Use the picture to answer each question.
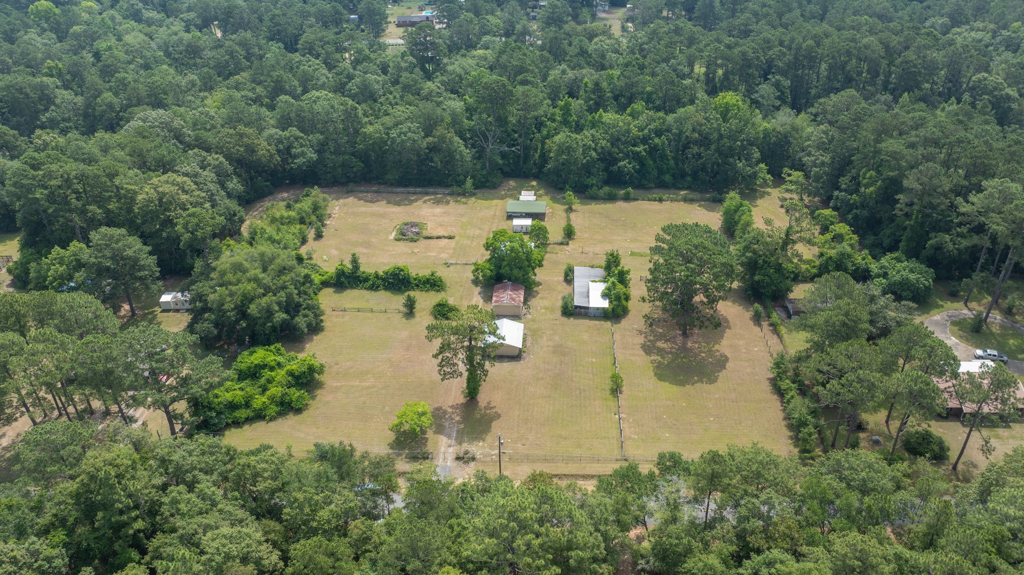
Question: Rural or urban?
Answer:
rural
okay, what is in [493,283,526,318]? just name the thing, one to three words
shed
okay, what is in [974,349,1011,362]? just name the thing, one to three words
vehicle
